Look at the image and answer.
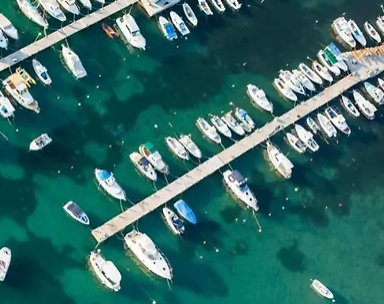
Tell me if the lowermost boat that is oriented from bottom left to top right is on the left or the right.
left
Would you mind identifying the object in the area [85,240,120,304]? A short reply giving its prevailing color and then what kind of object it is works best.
white boat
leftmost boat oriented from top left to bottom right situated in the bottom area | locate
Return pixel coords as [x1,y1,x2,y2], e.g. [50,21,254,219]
[64,201,90,224]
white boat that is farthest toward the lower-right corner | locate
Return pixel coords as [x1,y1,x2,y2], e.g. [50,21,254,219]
[307,279,334,299]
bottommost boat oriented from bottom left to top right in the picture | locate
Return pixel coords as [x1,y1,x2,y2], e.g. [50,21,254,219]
[27,133,51,154]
